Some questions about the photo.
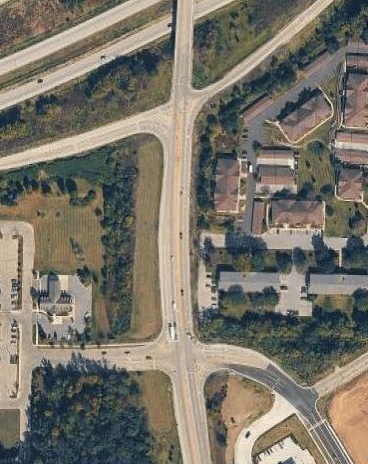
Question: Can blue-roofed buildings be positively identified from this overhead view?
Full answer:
No, no blue-roofed building can be seen from above.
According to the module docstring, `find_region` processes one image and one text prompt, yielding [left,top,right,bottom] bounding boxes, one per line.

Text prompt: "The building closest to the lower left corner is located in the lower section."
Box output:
[38,296,72,318]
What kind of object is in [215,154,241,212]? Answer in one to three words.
building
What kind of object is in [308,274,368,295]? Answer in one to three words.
building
